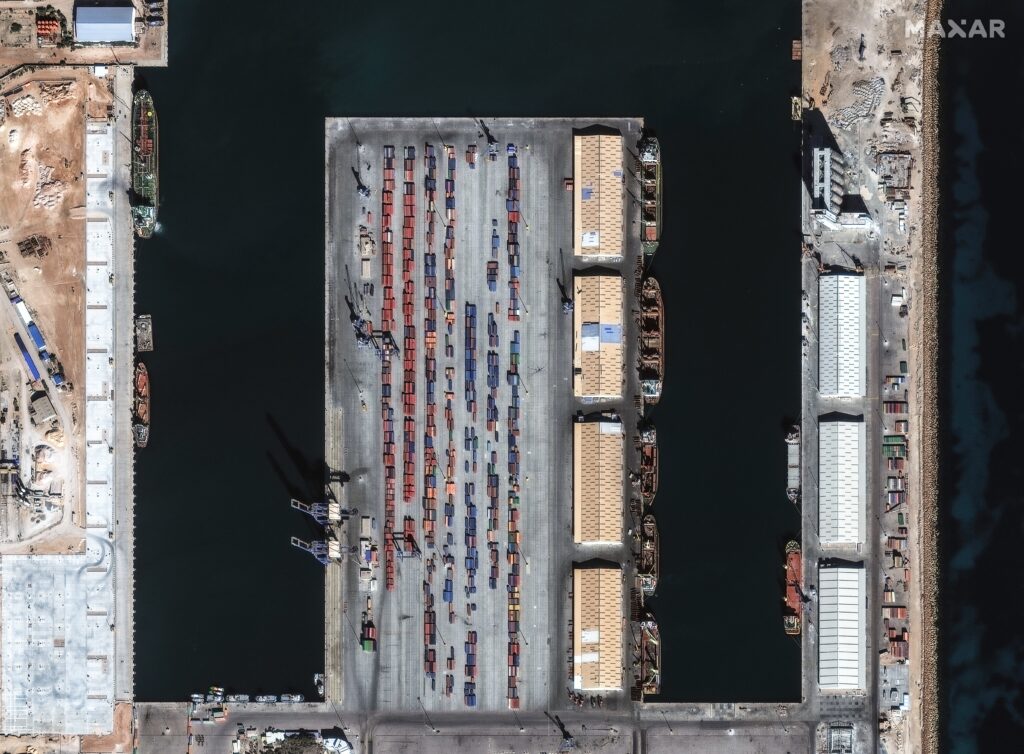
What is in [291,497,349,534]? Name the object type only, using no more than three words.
container crane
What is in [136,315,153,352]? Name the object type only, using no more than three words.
ship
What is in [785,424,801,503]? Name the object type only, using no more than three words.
ship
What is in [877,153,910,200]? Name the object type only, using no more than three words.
building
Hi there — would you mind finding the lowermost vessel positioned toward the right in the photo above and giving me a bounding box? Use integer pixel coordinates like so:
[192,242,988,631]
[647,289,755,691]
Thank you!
[641,612,662,695]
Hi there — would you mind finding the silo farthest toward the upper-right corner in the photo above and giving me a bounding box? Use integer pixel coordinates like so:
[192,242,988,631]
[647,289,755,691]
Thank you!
[810,148,873,228]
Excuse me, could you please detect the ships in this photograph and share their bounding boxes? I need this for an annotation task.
[639,277,665,405]
[638,514,660,597]
[135,362,151,448]
[792,40,802,60]
[792,97,801,120]
[641,612,662,695]
[784,540,802,636]
[785,424,801,503]
[136,315,153,352]
[639,137,663,273]
[642,424,660,504]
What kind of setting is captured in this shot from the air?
port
